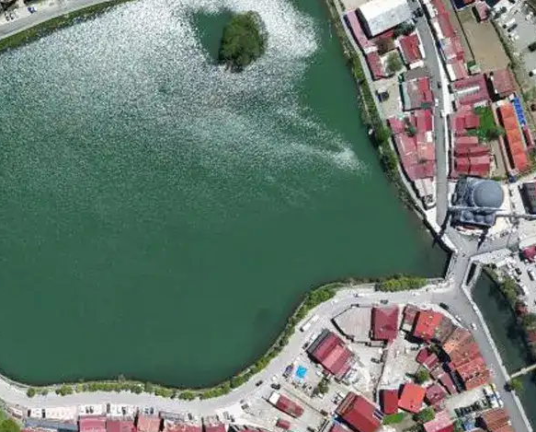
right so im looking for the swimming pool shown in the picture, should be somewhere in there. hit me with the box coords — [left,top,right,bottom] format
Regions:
[294,365,307,379]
